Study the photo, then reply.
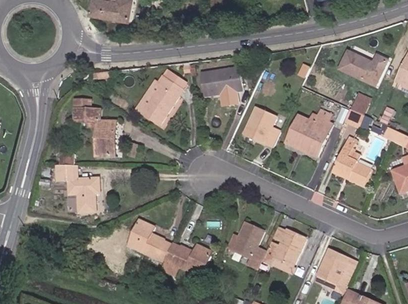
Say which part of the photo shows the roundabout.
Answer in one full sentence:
The roundabout sits in the top left section of the image.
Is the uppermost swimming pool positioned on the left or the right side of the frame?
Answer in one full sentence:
The uppermost swimming pool sits on the right side.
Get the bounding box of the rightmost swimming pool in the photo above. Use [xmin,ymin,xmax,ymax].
[358,130,388,168]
